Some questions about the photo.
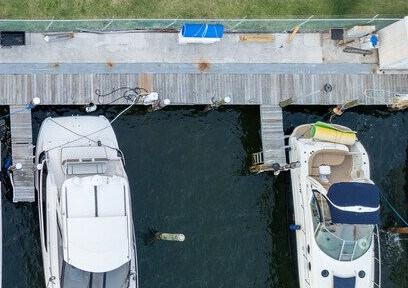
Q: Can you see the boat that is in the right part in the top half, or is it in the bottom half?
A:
bottom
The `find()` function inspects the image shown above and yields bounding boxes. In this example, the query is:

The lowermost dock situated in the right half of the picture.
[248,105,286,170]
